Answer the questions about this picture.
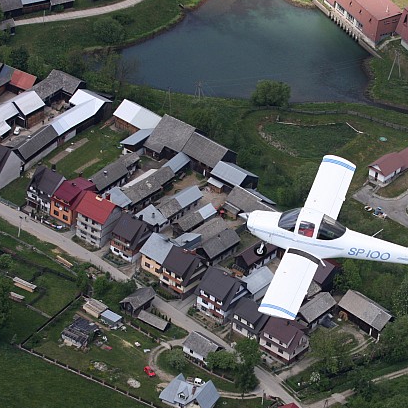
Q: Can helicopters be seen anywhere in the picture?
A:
No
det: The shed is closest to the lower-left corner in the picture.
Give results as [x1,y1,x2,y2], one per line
[62,324,99,353]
